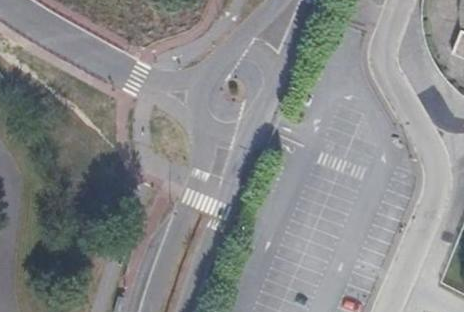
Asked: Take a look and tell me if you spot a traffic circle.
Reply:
Yes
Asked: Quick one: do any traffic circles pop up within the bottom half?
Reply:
No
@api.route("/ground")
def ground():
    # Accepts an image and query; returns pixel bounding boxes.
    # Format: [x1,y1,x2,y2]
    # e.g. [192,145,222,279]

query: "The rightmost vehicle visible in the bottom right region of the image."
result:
[342,298,363,312]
